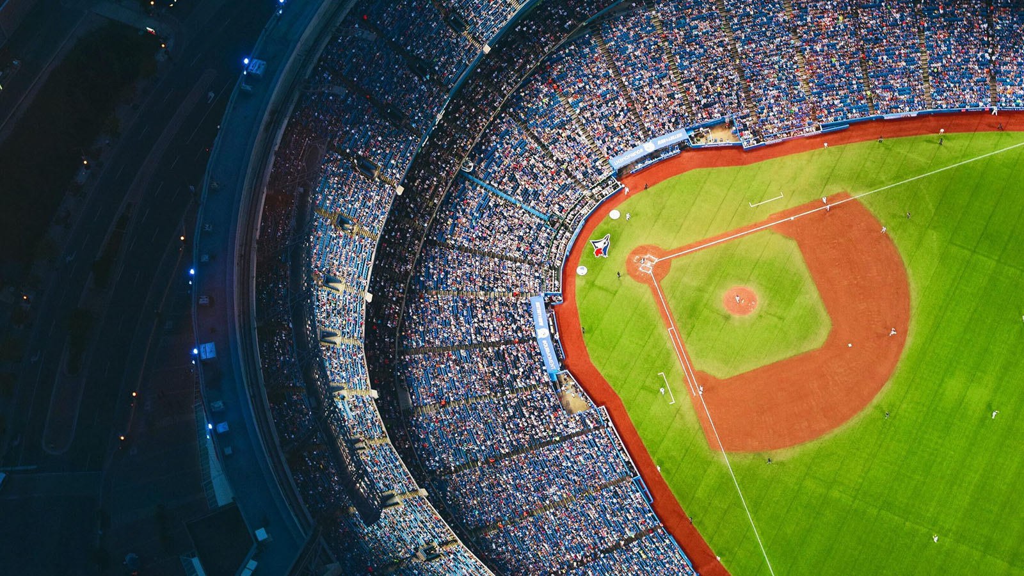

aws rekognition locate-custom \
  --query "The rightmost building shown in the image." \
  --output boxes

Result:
[184,502,255,576]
